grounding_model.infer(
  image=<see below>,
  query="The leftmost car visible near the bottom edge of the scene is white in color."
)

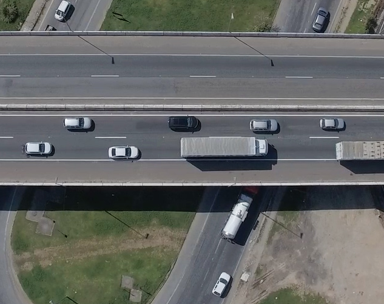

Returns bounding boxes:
[212,272,230,300]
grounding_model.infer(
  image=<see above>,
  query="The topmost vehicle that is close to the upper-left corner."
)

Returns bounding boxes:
[55,0,72,20]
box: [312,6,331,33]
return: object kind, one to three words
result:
car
